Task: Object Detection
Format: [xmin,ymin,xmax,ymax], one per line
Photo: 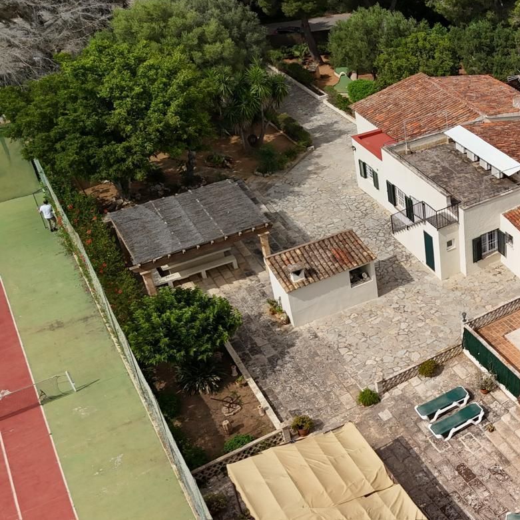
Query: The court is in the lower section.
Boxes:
[0,188,199,520]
